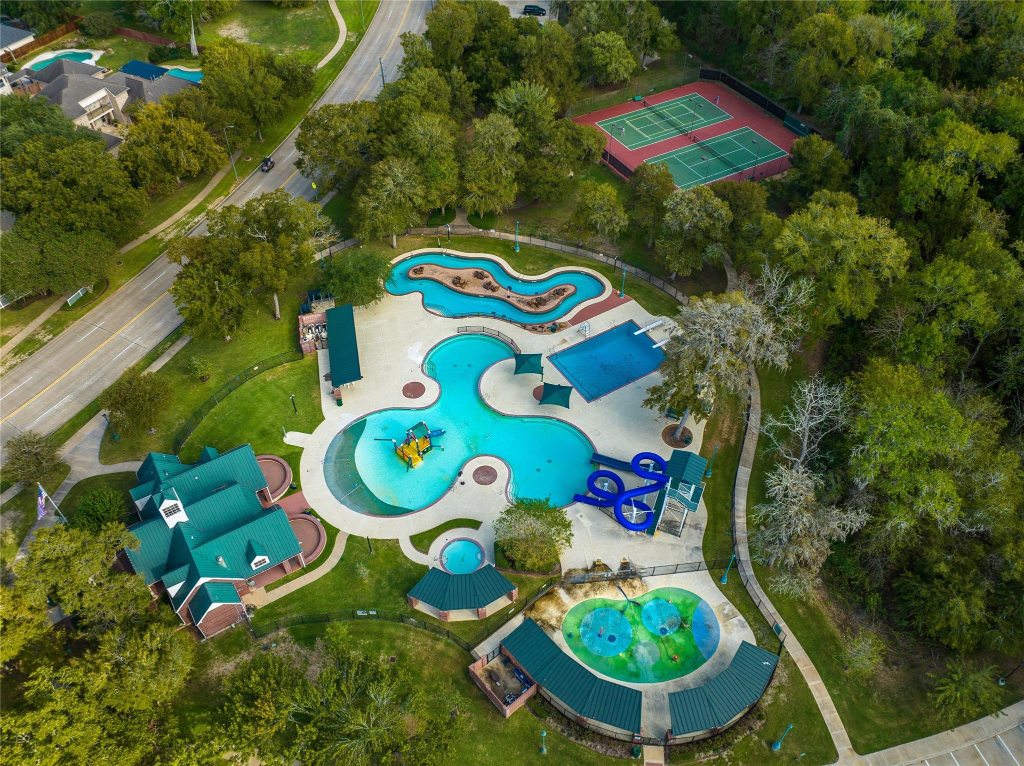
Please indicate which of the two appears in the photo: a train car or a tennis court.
tennis court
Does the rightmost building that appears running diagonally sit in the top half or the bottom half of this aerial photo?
bottom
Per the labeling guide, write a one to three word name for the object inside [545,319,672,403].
swimming pool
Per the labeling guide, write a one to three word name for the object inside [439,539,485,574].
swimming pool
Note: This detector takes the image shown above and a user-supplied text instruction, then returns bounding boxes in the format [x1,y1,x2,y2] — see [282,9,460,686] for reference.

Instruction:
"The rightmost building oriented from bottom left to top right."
[663,641,779,744]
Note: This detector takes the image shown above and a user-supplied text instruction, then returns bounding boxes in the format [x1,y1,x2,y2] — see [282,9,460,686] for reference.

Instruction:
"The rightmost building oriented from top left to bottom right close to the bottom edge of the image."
[501,617,644,735]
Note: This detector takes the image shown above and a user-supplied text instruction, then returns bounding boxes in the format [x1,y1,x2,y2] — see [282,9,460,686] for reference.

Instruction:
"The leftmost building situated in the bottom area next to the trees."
[125,440,307,637]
